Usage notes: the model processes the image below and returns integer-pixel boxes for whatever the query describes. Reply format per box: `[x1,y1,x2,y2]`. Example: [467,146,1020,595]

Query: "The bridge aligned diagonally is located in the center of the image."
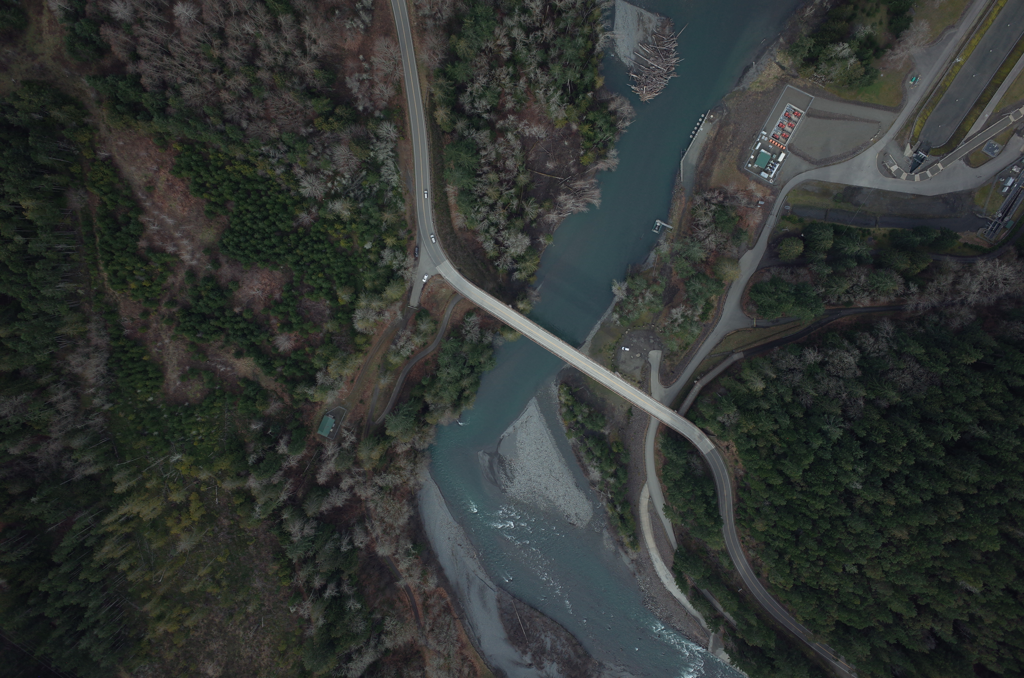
[435,257,716,455]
